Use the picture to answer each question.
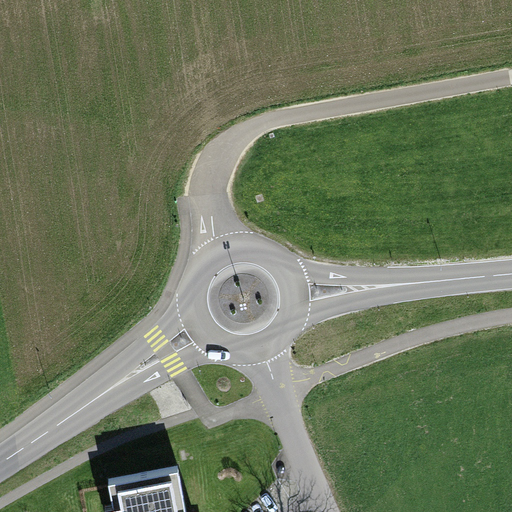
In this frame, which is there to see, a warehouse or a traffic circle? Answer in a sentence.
There is a traffic circle in the scene.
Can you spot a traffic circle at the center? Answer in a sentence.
Yes, a traffic circle can be seen at the center.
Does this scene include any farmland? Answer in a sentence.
Yes, farmland shows up in the scene.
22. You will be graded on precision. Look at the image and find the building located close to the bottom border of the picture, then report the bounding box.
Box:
[102,465,192,512]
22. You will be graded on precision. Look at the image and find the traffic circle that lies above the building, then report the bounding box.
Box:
[118,196,385,404]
